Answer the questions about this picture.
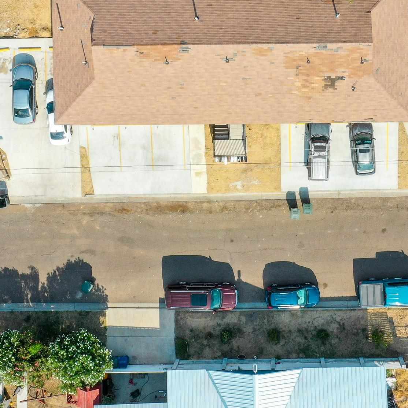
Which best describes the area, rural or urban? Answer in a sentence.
The area is urban.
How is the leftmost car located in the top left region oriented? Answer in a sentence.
From this overhead view, the leftmost car located in the top left region appears to run from top to bottom.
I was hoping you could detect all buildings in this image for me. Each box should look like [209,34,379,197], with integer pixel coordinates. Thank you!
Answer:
[53,0,408,125]
[93,364,388,408]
